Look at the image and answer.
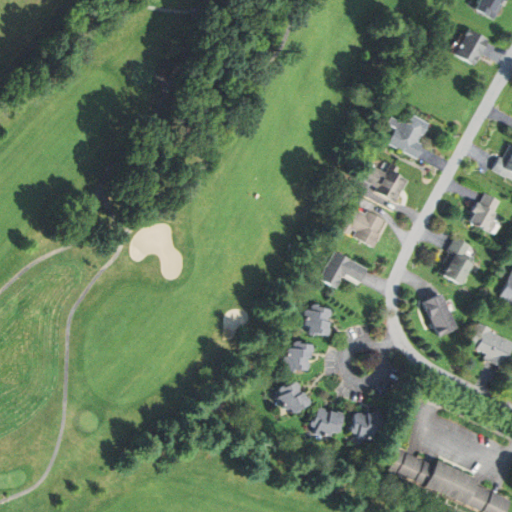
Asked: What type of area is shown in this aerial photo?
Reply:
golf course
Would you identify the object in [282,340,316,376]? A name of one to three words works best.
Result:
house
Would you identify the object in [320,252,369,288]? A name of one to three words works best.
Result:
house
